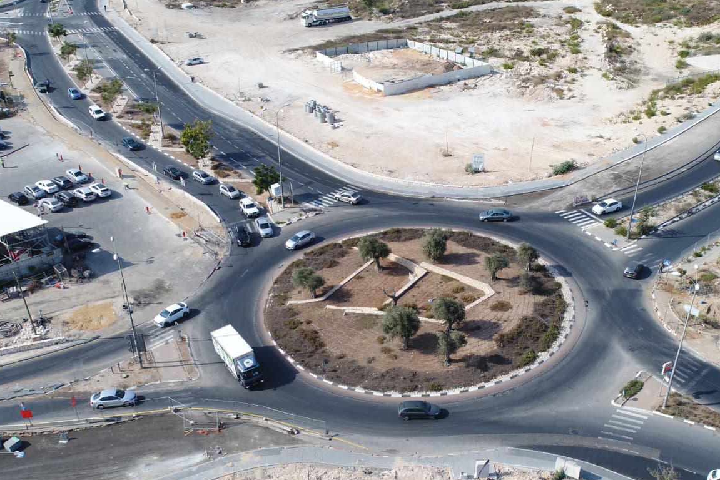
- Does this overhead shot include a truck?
Yes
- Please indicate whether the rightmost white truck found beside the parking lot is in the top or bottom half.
bottom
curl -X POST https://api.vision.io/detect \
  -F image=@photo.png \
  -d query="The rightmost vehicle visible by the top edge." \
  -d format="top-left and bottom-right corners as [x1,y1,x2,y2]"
[304,7,354,27]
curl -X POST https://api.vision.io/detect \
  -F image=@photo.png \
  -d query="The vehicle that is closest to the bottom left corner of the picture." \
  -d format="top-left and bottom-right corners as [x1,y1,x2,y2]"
[89,388,137,410]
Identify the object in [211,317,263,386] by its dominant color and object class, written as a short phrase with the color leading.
white truck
